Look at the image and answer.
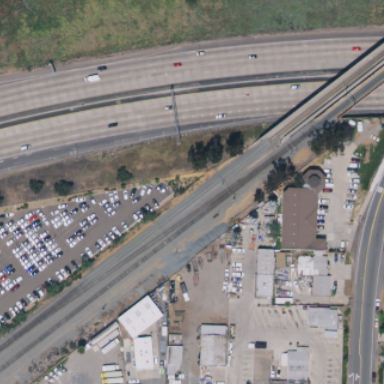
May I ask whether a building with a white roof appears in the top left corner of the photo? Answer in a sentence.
No, looking in the top left corner of the photo, there is no building with a white roof.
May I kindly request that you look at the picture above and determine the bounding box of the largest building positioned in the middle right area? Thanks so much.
[282,168,327,250]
